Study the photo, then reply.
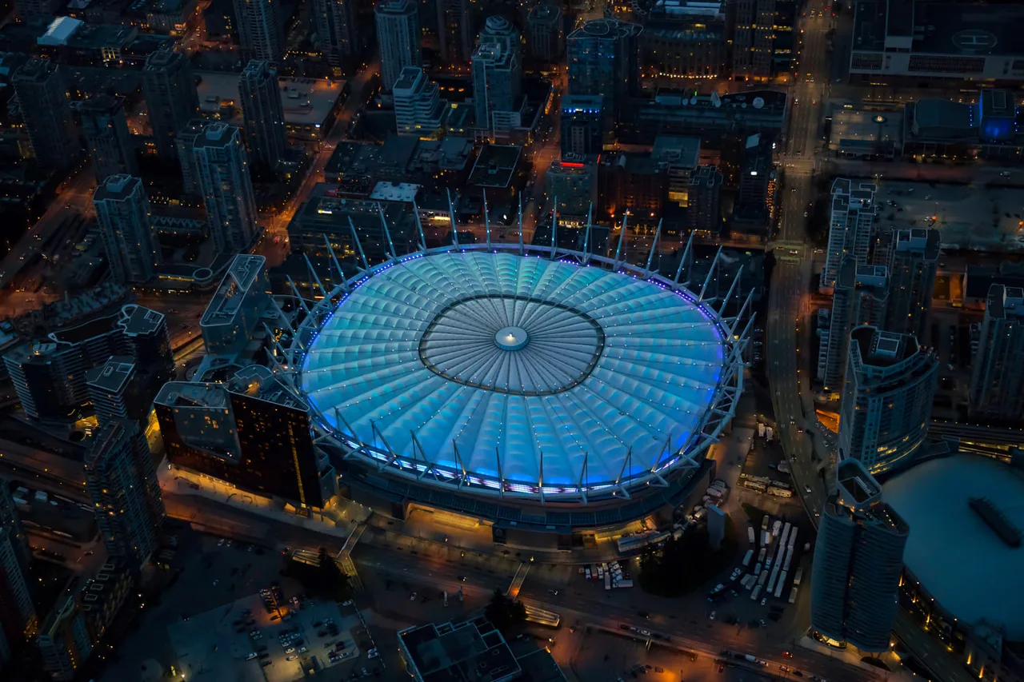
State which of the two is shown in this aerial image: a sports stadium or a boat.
sports stadium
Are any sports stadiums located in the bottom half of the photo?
Yes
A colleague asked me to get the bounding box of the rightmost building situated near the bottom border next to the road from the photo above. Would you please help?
[806,457,910,653]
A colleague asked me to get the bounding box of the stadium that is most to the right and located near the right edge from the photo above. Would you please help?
[880,455,1024,682]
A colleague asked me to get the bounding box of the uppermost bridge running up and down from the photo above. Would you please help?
[766,0,834,532]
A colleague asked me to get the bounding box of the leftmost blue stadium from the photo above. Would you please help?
[267,190,758,547]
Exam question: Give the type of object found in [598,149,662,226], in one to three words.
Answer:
building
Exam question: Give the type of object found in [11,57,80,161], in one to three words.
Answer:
building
